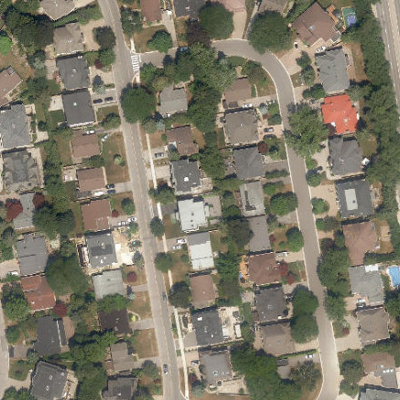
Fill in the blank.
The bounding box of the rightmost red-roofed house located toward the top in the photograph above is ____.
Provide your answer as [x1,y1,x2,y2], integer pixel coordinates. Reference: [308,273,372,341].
[324,94,361,132]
